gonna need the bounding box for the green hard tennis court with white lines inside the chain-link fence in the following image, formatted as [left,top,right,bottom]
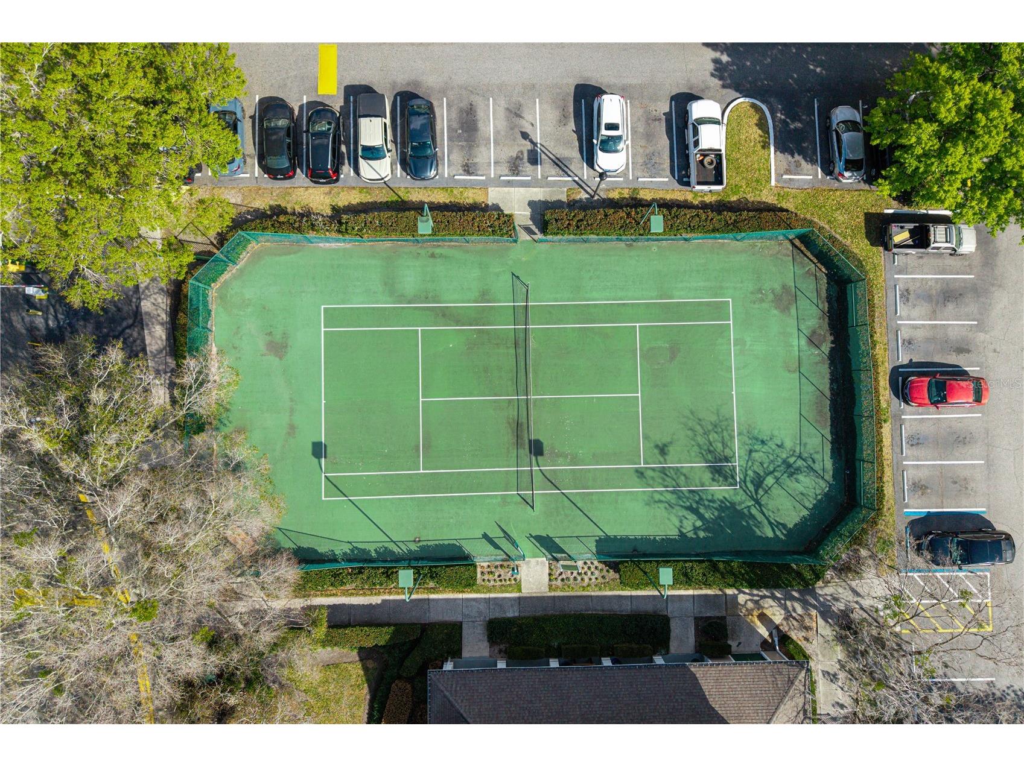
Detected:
[213,241,848,561]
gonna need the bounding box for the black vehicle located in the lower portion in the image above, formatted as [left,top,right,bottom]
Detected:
[921,528,1017,572]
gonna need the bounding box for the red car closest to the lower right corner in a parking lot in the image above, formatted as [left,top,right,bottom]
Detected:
[904,374,989,412]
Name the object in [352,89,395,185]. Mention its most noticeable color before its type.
white truck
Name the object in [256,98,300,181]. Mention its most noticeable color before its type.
black car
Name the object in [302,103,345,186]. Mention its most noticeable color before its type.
black car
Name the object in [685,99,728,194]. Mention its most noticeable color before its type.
white truck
